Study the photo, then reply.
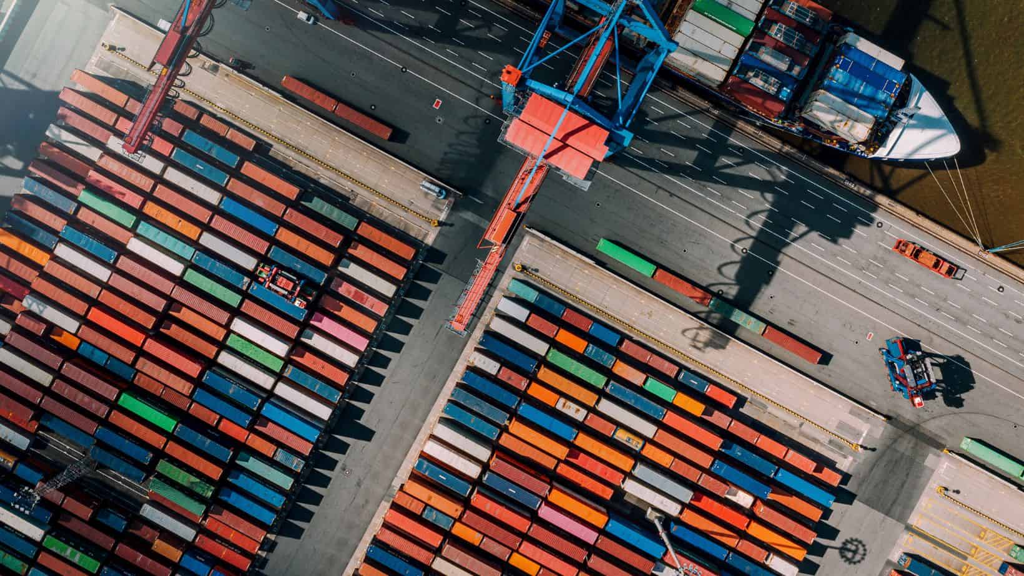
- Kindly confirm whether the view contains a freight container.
Yes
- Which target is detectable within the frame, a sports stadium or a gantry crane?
gantry crane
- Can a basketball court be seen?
No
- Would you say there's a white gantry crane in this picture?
No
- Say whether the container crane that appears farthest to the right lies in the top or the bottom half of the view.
top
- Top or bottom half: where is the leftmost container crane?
top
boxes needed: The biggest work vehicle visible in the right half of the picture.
[874,342,937,409]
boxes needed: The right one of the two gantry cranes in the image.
[438,0,688,339]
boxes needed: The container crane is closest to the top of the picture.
[109,0,266,167]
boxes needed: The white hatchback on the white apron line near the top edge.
[296,9,318,26]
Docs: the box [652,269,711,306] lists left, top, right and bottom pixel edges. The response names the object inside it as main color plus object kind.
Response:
red shipping container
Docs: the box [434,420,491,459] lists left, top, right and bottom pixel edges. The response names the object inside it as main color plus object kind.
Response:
white shipping container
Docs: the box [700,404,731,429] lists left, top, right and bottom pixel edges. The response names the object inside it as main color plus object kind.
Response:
red shipping container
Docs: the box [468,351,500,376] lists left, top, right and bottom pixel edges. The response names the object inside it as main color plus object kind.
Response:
white shipping container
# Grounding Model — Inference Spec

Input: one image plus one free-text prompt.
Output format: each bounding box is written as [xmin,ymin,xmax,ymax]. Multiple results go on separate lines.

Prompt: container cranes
[438,0,688,339]
[109,0,266,167]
